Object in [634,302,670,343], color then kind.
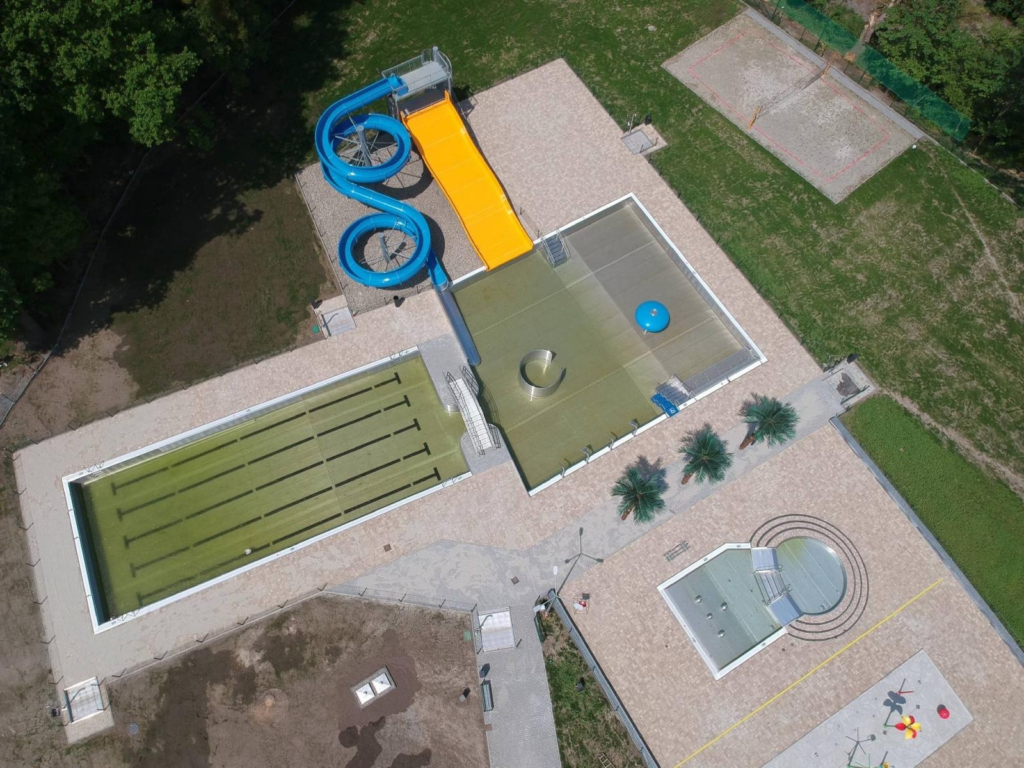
blue fountain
